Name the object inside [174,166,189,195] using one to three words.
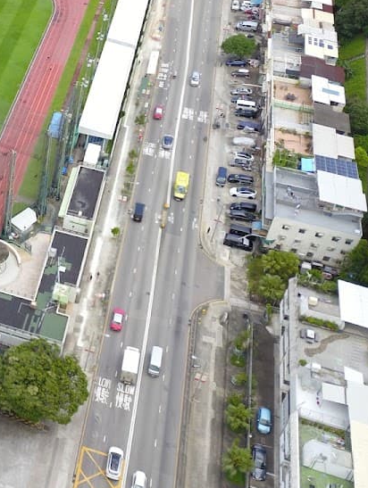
vehicle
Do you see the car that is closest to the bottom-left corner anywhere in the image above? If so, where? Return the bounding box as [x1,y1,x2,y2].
[106,445,125,480]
